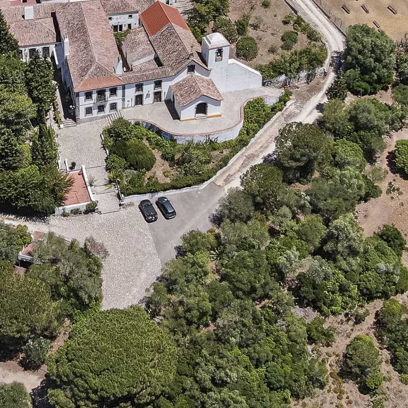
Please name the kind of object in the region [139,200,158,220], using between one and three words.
car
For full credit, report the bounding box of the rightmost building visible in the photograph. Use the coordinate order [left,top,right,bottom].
[199,31,231,93]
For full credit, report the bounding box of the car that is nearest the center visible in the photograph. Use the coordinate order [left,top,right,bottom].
[156,195,177,216]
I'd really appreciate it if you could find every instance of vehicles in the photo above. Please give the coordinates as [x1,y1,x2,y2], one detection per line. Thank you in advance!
[139,200,158,220]
[156,195,177,216]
